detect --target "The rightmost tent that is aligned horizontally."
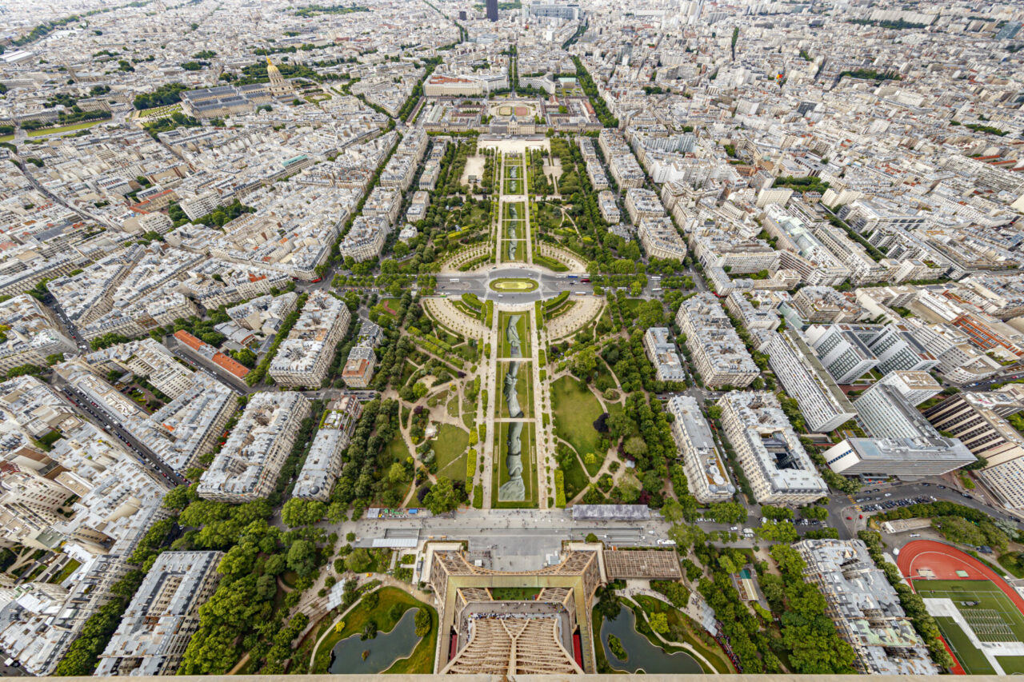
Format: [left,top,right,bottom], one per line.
[572,506,650,520]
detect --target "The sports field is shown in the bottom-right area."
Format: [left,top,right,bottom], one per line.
[884,538,1024,674]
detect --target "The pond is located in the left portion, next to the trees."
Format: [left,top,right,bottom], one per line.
[329,608,419,674]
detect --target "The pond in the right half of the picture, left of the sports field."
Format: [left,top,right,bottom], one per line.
[602,610,702,674]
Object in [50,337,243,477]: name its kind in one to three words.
building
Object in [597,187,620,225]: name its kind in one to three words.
house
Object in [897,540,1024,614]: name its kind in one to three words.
running track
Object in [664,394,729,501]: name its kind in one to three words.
house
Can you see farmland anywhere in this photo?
No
